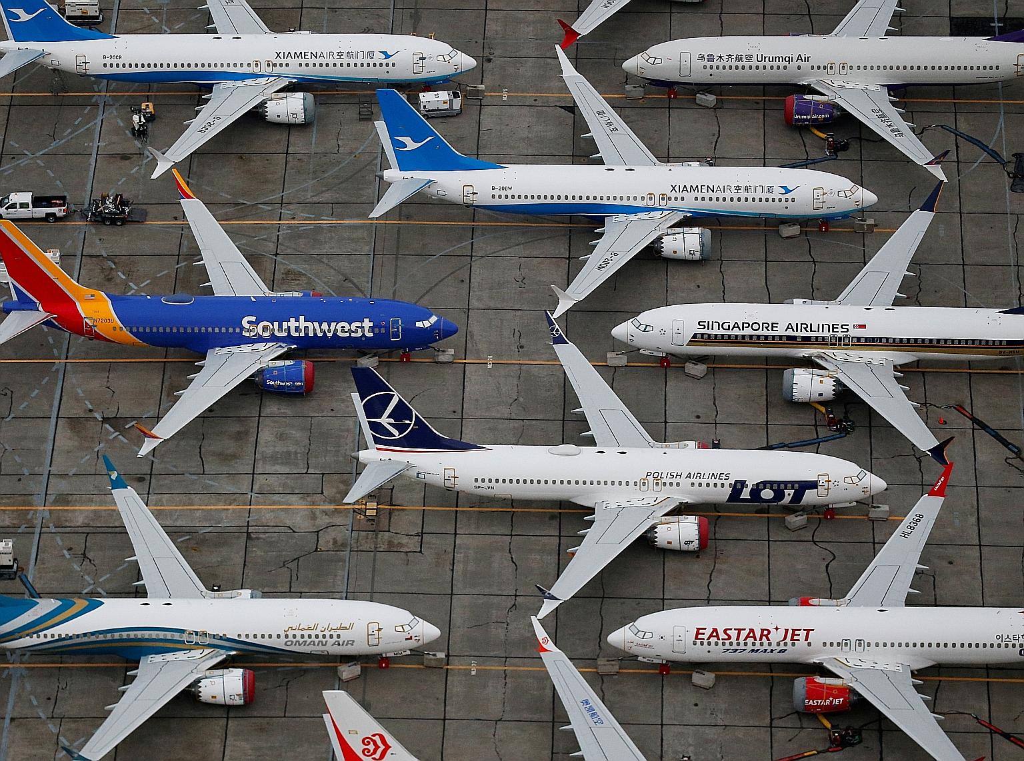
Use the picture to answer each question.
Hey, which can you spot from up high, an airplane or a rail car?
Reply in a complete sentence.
Of the two, only an airplane appears.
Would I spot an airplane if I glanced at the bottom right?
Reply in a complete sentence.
Yes, you'll find an airplane at the bottom right.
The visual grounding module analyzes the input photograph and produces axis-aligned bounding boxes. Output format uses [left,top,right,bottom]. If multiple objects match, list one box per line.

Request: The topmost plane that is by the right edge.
[623,0,1024,180]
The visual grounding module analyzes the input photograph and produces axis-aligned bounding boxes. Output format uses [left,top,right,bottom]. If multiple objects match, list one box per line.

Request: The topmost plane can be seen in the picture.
[559,0,638,48]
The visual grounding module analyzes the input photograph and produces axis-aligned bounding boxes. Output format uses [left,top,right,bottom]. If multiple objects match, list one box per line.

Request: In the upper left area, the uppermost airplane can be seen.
[0,0,478,177]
